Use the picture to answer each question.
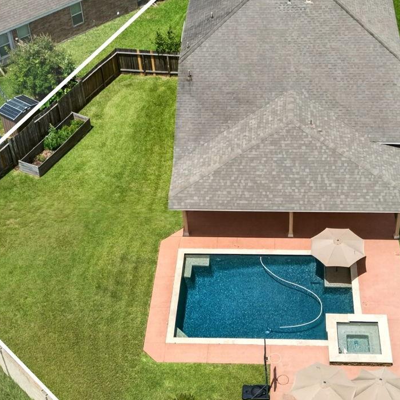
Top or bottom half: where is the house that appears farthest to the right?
top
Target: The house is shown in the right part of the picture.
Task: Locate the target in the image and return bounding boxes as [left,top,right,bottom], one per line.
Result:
[166,0,400,236]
